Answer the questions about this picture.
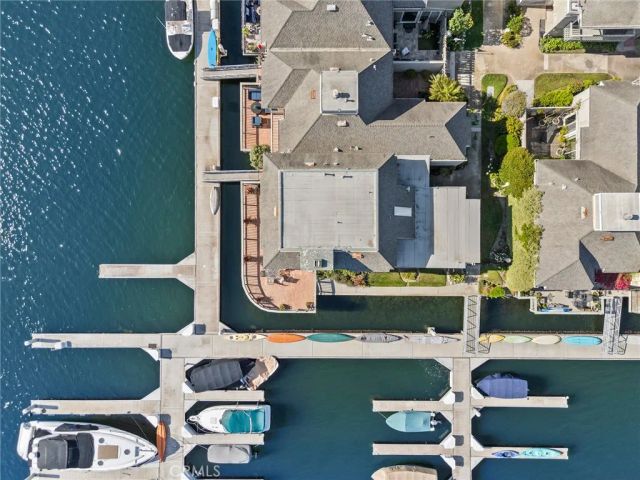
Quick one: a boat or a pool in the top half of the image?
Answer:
boat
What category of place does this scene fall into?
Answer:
residential area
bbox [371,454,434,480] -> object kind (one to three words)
boat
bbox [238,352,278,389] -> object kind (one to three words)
boat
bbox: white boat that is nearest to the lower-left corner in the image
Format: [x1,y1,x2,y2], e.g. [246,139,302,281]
[18,412,159,472]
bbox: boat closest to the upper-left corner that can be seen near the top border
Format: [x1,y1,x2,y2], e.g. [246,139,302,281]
[151,0,196,61]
